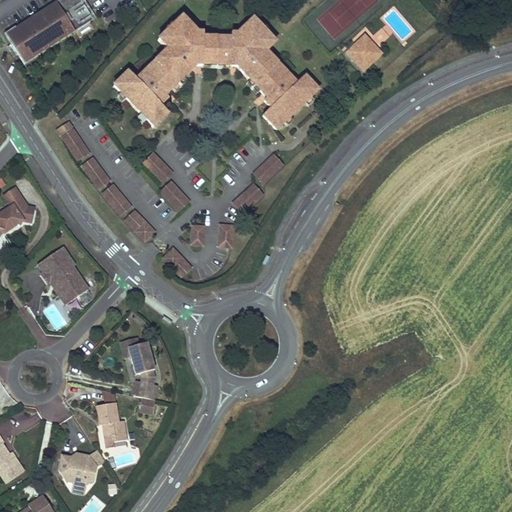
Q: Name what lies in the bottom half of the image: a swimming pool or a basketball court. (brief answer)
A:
swimming pool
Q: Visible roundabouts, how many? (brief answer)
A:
two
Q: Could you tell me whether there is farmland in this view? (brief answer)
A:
Yes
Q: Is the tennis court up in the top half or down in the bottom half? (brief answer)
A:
top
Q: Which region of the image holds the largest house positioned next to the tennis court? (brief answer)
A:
top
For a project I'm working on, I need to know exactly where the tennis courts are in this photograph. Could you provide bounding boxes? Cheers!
[301,0,392,51]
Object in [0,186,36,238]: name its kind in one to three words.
house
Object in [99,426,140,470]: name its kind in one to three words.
swimming pool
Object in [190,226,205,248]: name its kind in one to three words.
building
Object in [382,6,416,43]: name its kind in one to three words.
swimming pool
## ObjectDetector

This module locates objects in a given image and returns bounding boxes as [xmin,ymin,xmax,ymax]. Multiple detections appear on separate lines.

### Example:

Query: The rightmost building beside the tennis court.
[345,33,383,72]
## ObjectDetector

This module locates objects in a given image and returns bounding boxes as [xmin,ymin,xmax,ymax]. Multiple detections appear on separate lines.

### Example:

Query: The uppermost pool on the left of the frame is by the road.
[42,292,72,332]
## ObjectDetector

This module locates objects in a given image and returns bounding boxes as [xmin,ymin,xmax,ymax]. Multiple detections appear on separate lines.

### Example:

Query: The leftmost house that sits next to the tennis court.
[114,12,320,130]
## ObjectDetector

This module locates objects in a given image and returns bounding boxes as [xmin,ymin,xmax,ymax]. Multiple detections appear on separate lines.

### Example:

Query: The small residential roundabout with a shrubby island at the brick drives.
[7,350,63,404]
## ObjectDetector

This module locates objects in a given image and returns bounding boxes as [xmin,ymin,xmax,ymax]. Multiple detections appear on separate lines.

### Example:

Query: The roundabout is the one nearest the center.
[195,293,298,396]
